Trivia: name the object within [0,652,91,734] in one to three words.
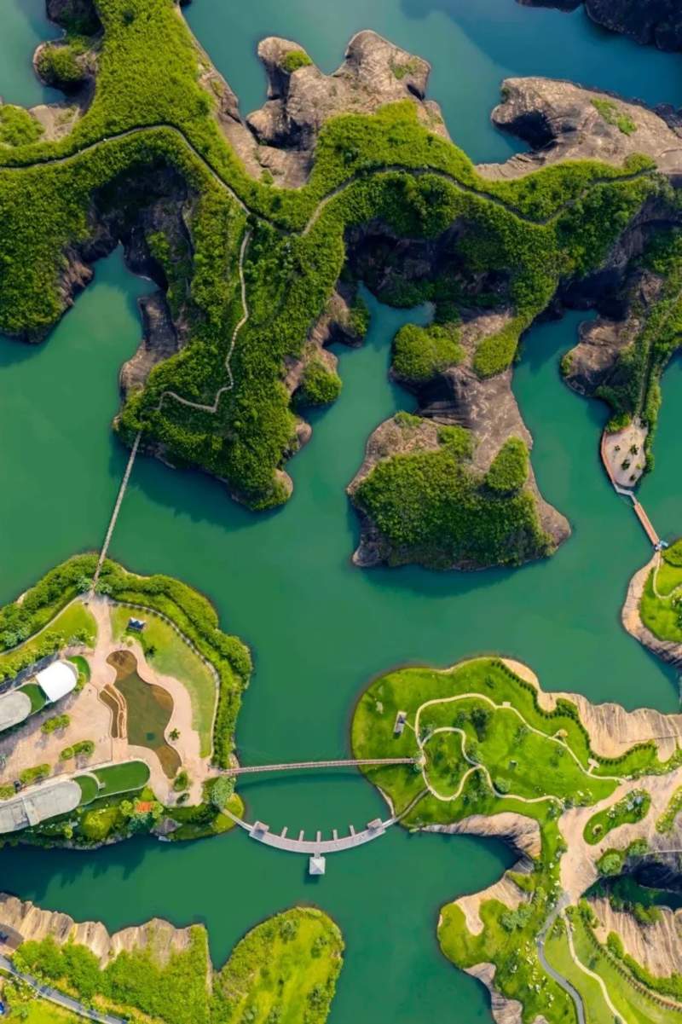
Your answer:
building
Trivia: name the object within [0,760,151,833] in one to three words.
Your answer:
building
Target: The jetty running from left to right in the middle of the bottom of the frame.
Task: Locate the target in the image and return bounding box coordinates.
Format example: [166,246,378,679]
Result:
[222,808,398,857]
